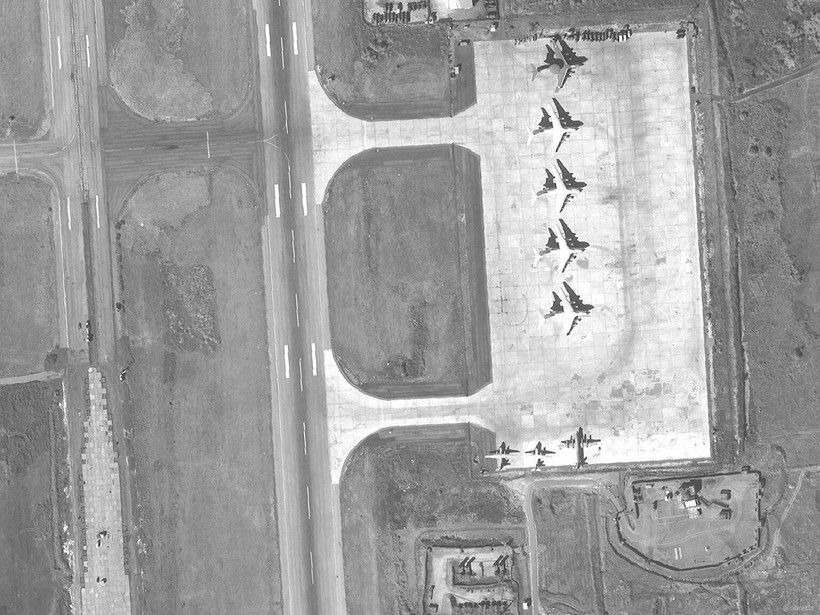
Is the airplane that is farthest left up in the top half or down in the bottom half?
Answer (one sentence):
You can find the airplane that is farthest left in the bottom half.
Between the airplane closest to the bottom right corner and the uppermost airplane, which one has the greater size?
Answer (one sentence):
Compared with the airplane closest to the bottom right corner, the uppermost airplane is the larger one.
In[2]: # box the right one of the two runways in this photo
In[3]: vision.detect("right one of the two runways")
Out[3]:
[252,0,346,615]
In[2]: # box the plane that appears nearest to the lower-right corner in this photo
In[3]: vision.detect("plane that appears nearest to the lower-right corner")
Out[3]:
[557,431,597,471]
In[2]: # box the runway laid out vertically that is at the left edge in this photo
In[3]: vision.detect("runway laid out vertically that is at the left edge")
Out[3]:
[30,0,114,364]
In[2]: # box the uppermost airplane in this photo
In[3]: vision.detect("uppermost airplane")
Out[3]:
[529,39,585,93]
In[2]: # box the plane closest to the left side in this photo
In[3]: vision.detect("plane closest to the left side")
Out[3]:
[485,445,516,472]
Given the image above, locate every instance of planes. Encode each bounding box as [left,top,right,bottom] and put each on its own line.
[536,287,592,341]
[485,445,516,472]
[529,165,585,219]
[525,103,581,157]
[557,431,597,471]
[529,39,585,93]
[521,444,552,472]
[531,225,587,279]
